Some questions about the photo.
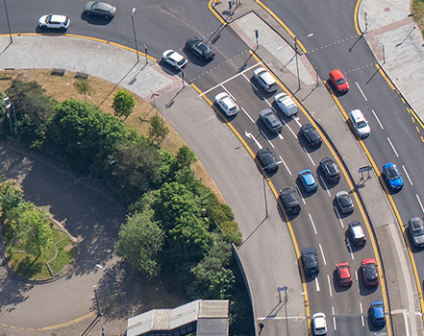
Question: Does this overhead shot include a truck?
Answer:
No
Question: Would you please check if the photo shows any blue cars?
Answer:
Yes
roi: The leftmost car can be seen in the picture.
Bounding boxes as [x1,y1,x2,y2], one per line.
[37,13,70,31]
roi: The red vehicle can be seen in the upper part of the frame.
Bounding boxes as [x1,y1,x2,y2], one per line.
[328,68,349,94]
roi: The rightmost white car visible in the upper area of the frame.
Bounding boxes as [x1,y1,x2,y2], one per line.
[349,109,371,137]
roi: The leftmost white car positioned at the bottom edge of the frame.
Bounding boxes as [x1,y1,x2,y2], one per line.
[310,312,327,336]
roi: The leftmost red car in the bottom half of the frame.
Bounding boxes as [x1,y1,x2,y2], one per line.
[335,263,352,288]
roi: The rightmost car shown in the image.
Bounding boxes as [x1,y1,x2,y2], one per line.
[408,217,424,247]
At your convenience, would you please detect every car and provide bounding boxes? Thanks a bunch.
[213,91,240,119]
[382,163,403,190]
[278,186,300,216]
[368,304,384,328]
[336,192,352,215]
[274,91,300,119]
[348,223,365,247]
[299,122,323,149]
[361,259,378,287]
[82,1,118,20]
[310,312,327,336]
[408,217,424,247]
[349,109,371,137]
[184,39,216,62]
[251,67,279,93]
[37,13,70,31]
[328,68,349,94]
[297,170,317,195]
[335,263,352,288]
[256,147,279,176]
[300,249,319,276]
[259,109,284,136]
[160,51,187,70]
[319,157,341,186]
